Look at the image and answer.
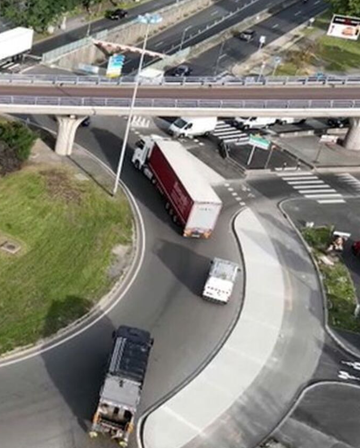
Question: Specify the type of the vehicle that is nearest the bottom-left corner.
truck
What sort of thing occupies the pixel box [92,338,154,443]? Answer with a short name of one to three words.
truck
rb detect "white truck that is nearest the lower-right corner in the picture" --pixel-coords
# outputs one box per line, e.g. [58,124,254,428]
[203,257,241,304]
